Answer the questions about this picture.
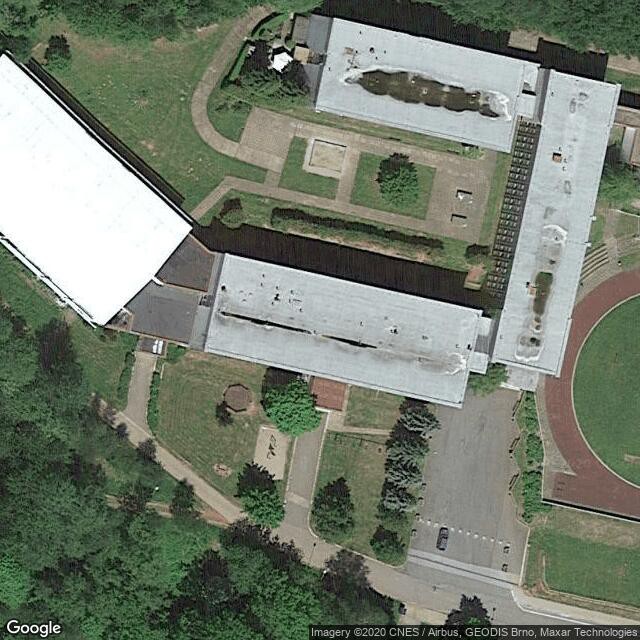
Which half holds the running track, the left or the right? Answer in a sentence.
You can find the running track on the right side of the picture.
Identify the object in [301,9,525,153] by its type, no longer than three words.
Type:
building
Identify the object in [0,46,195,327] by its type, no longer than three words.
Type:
building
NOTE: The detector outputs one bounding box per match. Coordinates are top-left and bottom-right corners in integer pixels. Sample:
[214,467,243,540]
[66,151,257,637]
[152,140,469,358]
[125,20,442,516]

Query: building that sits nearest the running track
[481,59,621,378]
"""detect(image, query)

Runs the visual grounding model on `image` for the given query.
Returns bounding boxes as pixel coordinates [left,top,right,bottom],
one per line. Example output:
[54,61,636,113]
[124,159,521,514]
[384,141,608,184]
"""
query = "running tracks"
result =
[545,269,640,520]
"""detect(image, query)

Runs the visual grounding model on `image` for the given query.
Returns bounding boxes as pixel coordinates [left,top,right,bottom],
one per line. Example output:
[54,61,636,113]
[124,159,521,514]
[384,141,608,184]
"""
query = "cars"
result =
[437,528,449,549]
